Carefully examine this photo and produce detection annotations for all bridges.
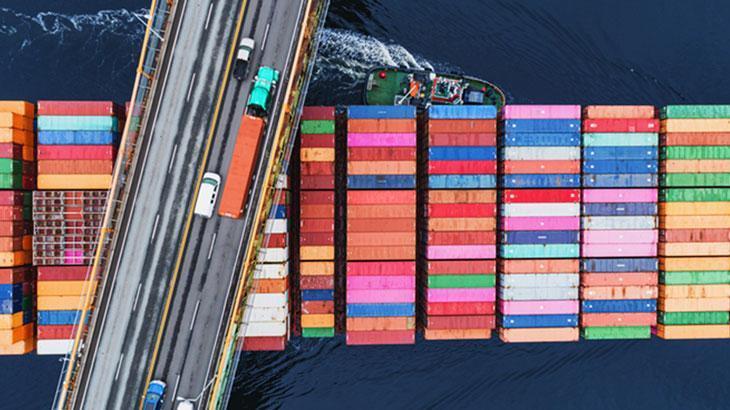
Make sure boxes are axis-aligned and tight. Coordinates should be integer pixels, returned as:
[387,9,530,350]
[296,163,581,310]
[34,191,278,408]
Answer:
[47,0,331,410]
